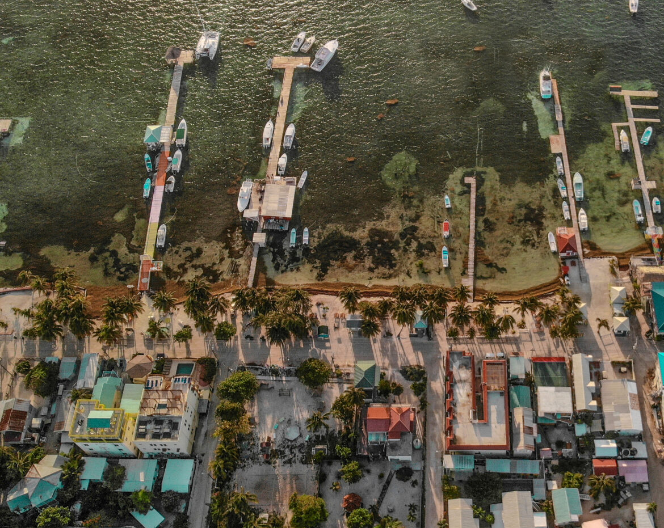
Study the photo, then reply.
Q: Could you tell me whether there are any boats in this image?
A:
Yes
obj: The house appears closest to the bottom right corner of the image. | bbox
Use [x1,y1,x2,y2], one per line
[632,504,653,528]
